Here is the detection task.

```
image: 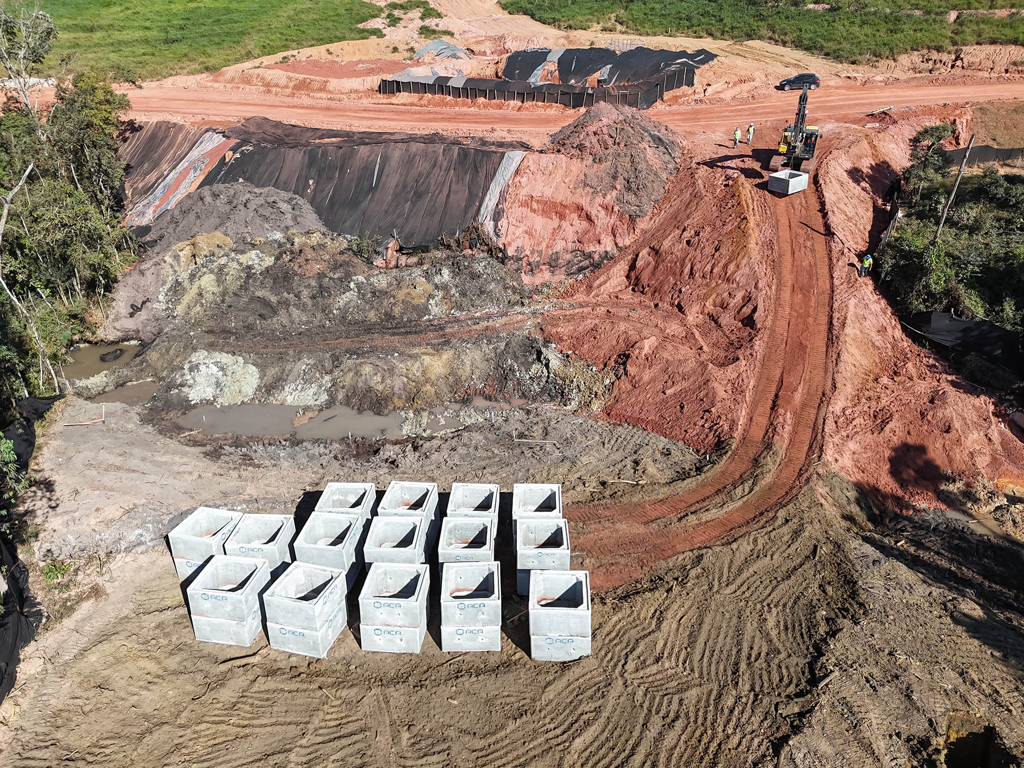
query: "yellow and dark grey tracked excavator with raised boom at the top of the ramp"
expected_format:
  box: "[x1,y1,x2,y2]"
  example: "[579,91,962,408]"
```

[767,80,826,171]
